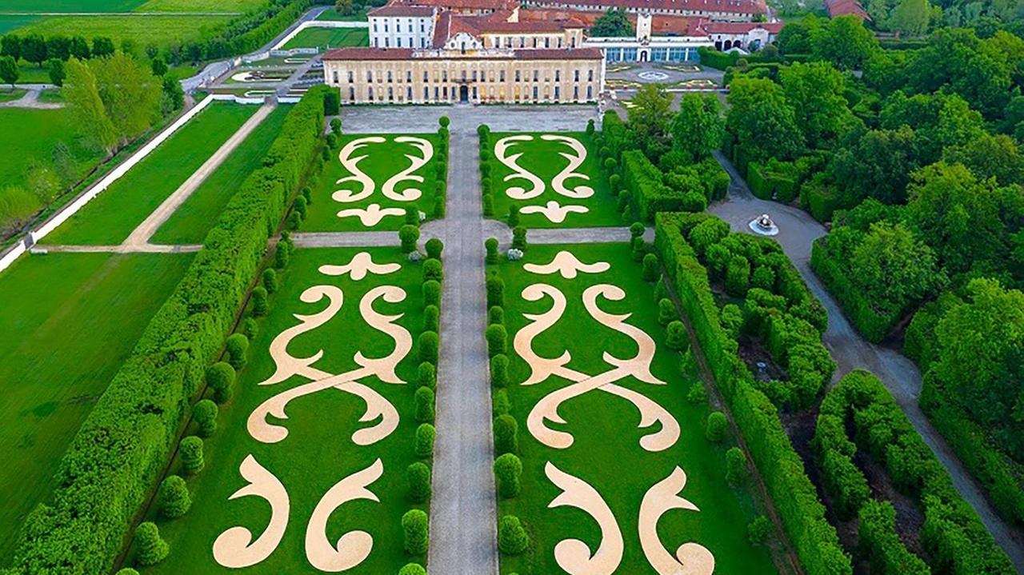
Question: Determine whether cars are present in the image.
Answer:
No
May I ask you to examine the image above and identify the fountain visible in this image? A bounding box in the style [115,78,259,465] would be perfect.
[748,212,780,233]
